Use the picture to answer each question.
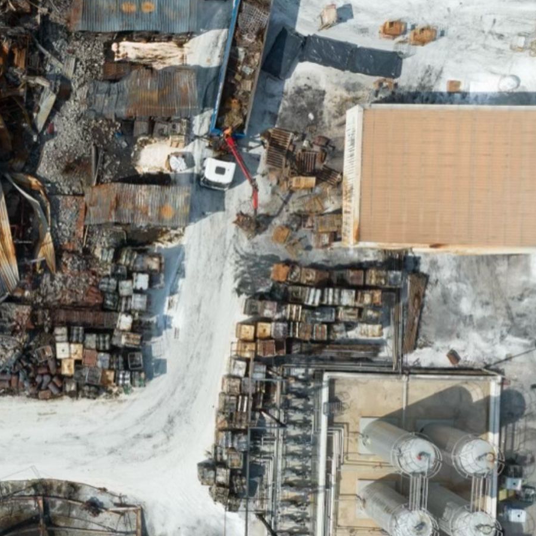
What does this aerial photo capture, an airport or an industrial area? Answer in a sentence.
What you see here is an industrial area.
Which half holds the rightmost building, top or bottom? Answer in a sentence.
The rightmost building is in the top half of the image.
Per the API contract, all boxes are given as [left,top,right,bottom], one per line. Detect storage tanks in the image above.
[357,417,444,481]
[412,481,505,536]
[356,481,442,536]
[412,417,506,481]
